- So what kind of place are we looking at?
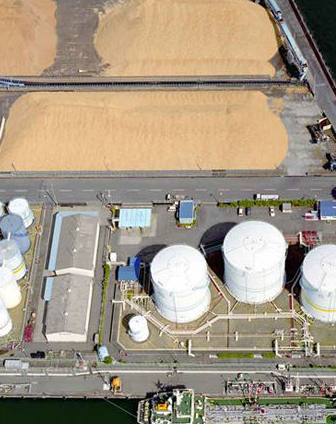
industrial area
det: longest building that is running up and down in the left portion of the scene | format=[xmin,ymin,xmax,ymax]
[44,210,99,342]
